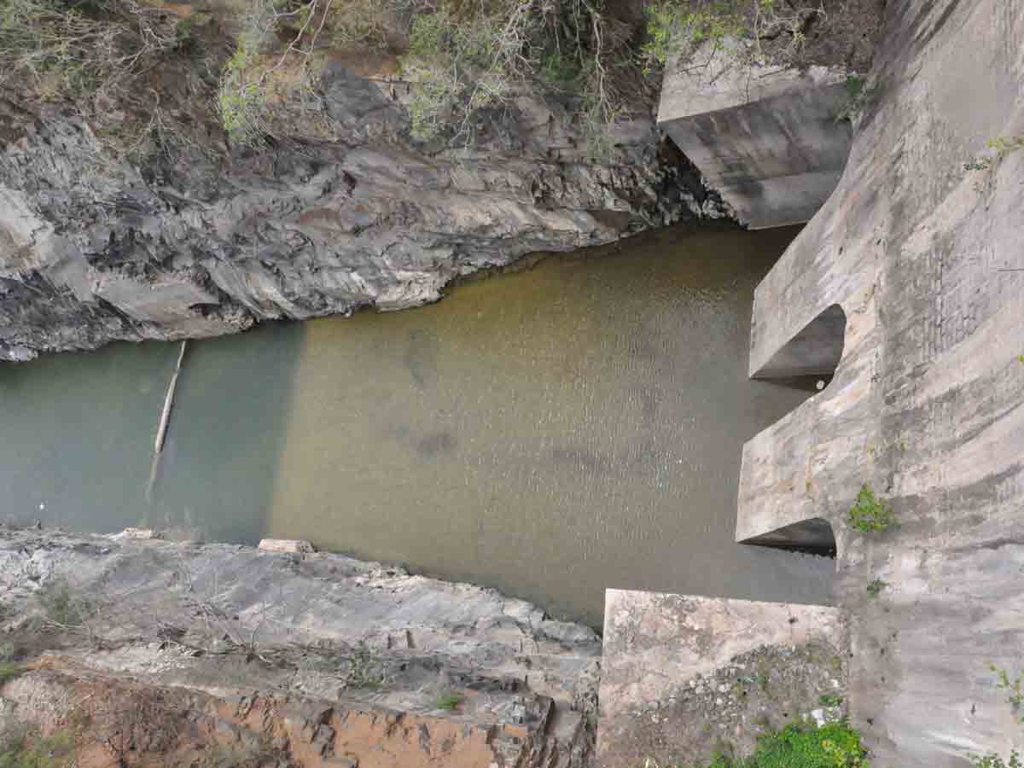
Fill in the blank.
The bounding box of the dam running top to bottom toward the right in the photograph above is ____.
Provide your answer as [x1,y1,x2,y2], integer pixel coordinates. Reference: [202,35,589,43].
[737,0,1024,768]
